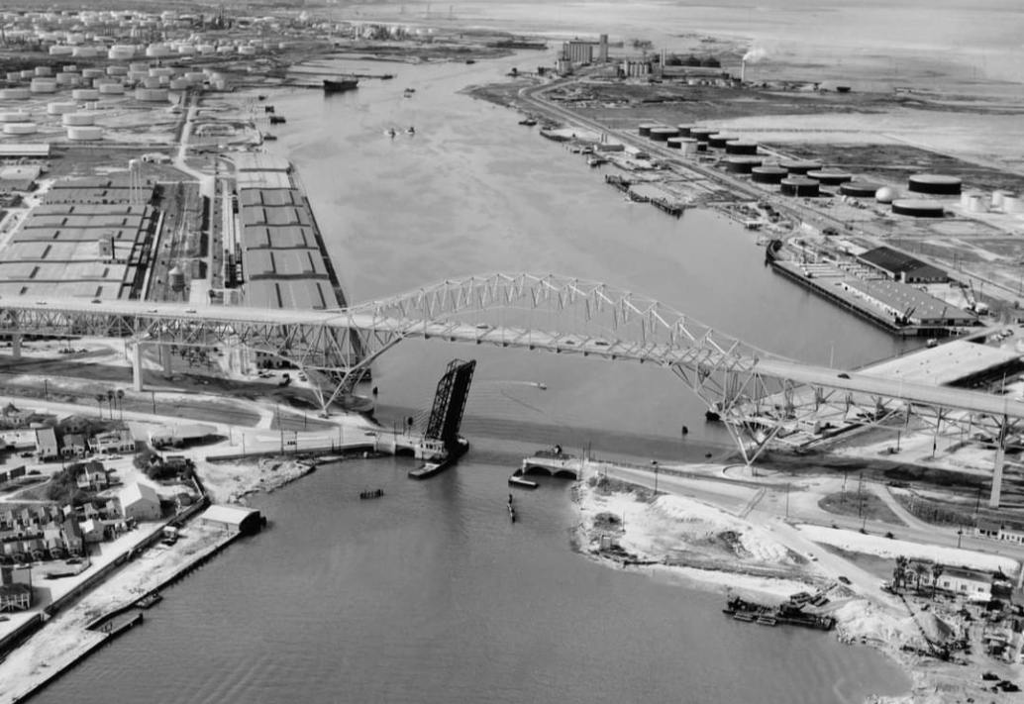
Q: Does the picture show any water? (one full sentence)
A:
Yes, the picture does contain water.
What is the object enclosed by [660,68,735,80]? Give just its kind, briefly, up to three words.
building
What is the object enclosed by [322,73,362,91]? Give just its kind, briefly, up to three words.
ship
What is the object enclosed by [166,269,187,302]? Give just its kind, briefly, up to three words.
water tower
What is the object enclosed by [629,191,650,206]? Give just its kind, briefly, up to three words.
ship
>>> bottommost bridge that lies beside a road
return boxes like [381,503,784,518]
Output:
[0,274,1024,498]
